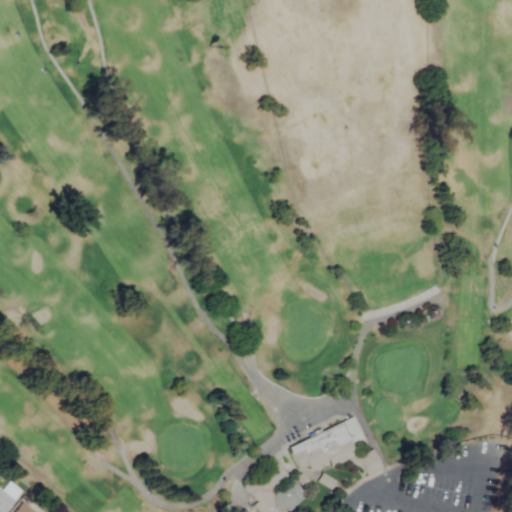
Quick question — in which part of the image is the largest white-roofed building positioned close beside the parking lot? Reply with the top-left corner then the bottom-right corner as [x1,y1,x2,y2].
[289,416,366,473]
